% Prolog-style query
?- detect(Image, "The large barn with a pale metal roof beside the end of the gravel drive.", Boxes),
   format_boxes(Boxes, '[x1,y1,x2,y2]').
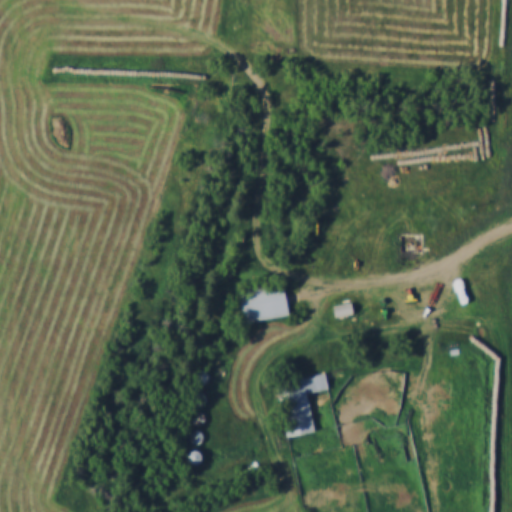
[244,292,290,322]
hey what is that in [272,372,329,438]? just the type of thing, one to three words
house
